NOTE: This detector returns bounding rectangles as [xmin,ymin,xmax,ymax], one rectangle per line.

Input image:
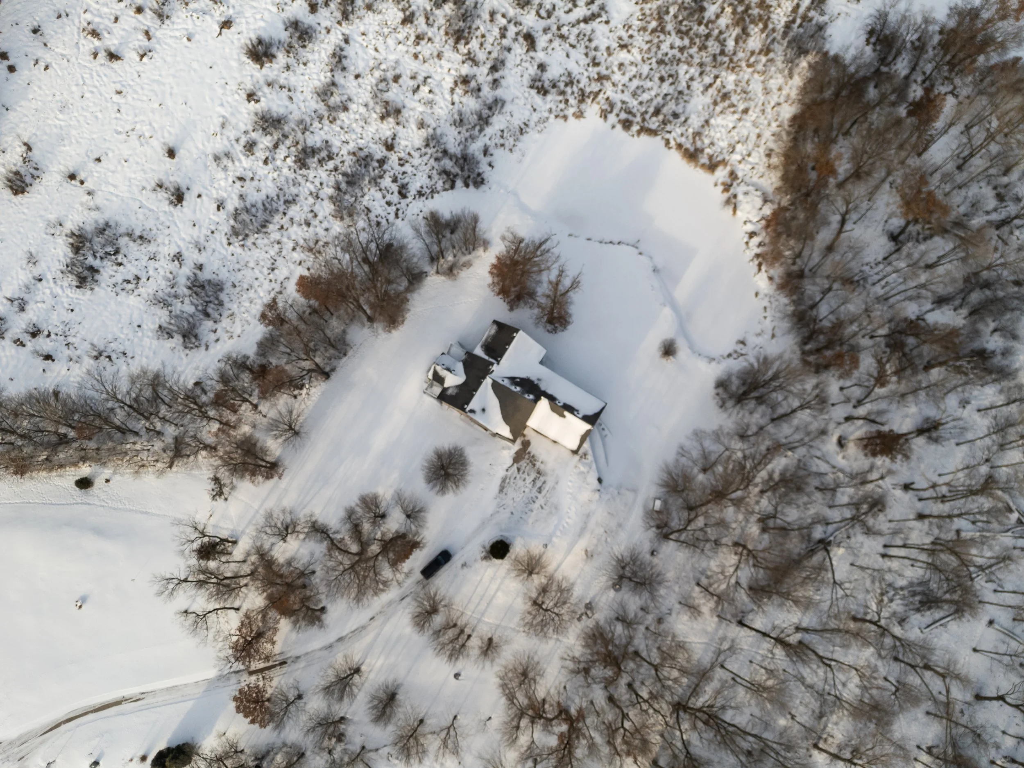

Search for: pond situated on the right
[513,114,761,358]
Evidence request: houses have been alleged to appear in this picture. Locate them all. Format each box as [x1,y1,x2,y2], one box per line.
[421,319,607,458]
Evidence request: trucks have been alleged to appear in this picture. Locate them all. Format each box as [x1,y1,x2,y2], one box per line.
[419,549,452,581]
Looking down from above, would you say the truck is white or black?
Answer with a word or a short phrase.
black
